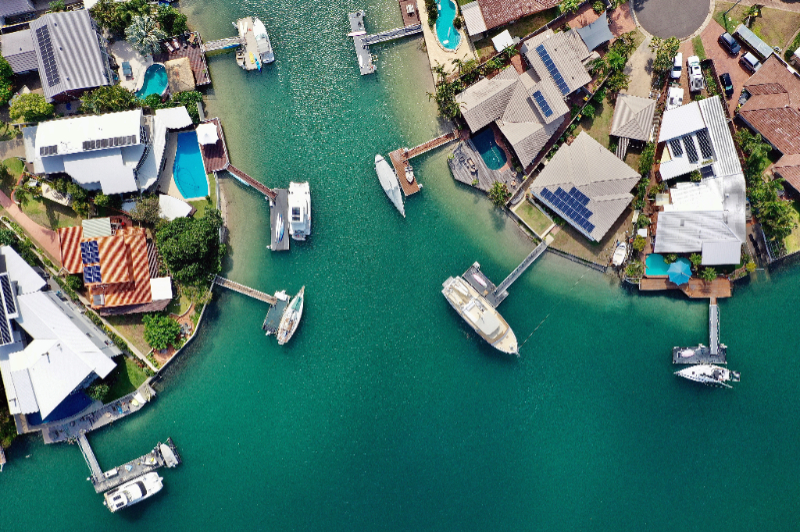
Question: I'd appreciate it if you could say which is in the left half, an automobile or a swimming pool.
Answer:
swimming pool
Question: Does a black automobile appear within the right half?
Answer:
Yes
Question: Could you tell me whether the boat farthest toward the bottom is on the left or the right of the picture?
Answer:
left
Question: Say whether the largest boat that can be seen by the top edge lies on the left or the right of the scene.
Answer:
left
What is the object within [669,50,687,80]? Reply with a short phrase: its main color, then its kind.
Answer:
white vehicle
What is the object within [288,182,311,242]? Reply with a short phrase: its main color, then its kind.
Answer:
white boat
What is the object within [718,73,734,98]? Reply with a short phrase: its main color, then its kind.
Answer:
black car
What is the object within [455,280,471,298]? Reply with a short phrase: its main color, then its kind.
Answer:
white boat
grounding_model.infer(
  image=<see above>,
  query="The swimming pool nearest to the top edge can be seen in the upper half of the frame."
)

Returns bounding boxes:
[433,0,464,55]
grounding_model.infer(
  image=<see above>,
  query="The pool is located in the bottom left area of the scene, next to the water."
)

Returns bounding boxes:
[21,385,96,427]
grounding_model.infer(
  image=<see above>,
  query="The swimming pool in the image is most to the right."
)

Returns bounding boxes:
[644,252,692,278]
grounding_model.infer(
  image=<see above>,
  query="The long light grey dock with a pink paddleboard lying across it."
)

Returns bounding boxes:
[348,8,378,76]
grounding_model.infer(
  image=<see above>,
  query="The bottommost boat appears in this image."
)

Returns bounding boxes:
[102,473,165,512]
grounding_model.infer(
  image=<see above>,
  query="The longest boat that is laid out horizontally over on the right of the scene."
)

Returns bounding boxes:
[674,365,738,384]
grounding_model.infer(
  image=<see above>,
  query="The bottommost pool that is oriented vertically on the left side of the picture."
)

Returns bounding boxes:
[172,129,211,200]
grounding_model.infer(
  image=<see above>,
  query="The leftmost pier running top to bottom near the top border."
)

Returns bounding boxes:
[232,16,263,72]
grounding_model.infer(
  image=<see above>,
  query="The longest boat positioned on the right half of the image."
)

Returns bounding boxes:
[439,274,521,355]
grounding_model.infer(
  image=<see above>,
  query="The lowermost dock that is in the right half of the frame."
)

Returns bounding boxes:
[672,345,727,364]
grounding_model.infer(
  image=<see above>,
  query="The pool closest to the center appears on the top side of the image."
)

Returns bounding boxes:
[474,130,508,173]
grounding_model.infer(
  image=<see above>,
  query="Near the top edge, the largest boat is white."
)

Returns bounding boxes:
[254,19,277,66]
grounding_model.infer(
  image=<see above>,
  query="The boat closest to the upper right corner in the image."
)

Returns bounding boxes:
[610,243,626,266]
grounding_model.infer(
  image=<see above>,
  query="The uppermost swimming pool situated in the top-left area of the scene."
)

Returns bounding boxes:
[134,62,170,101]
